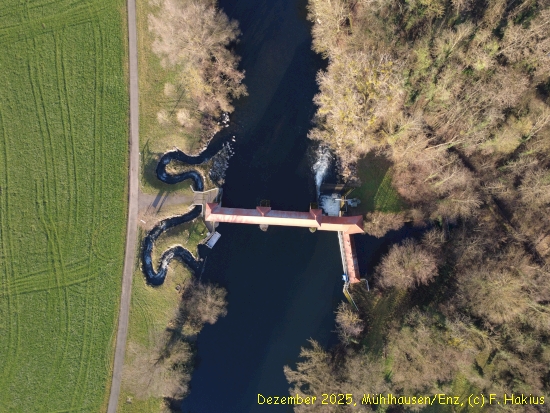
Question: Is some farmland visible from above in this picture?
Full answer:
Yes, farmland shows up in the scene.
